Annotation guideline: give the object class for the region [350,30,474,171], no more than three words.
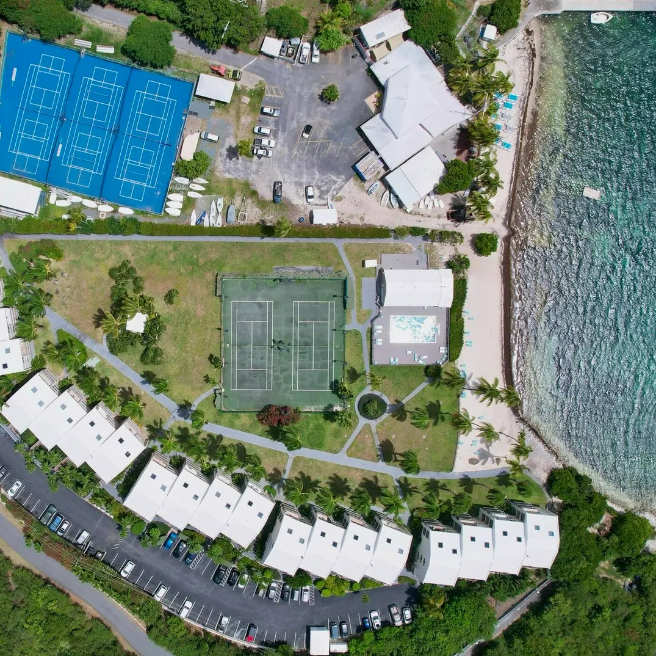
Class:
building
